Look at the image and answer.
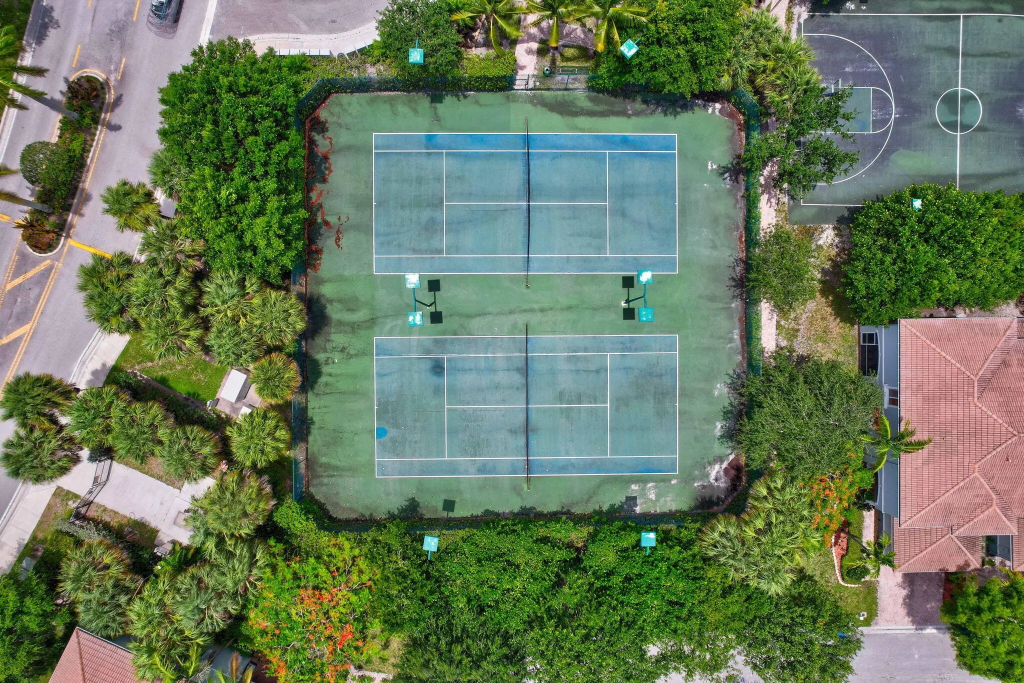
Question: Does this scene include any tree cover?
Yes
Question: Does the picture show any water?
No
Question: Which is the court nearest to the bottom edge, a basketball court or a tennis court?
tennis court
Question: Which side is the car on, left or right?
left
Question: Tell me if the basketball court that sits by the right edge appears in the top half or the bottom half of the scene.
top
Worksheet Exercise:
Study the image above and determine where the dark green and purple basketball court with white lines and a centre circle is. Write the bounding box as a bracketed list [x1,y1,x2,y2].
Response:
[789,0,1024,223]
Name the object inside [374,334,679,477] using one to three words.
tennis court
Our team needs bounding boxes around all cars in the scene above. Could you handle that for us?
[148,0,183,28]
